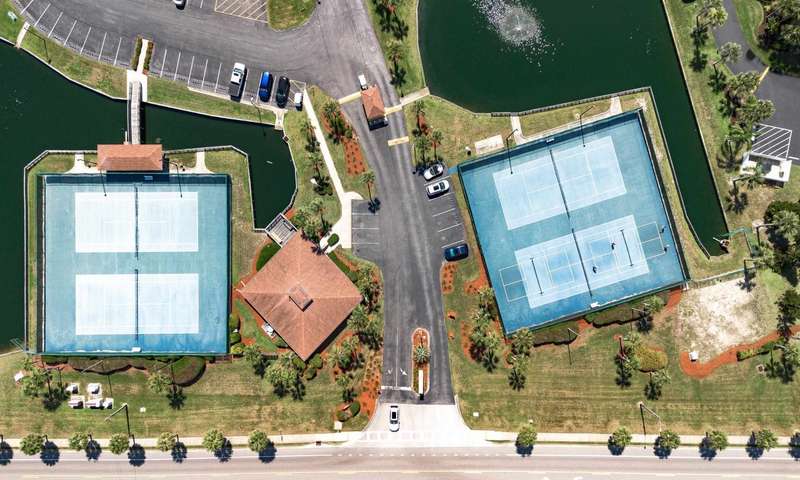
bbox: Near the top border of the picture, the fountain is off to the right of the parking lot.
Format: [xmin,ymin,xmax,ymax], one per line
[467,0,564,71]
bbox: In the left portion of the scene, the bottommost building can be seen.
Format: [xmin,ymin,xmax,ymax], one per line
[238,232,362,360]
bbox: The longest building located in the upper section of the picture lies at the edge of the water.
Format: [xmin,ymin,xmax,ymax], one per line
[97,144,167,170]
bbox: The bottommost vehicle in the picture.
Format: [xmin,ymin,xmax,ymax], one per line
[388,406,400,432]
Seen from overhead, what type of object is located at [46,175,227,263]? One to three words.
tennis court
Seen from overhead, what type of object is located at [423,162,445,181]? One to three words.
car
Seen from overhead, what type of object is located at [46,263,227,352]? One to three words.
tennis court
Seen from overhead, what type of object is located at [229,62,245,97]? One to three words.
vehicle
